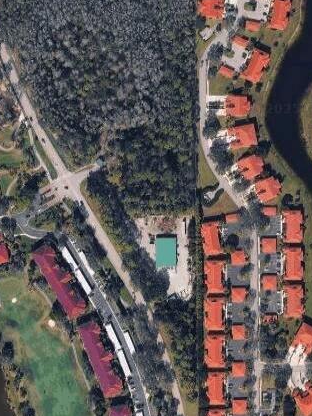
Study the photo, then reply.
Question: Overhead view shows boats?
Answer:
No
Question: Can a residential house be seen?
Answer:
Yes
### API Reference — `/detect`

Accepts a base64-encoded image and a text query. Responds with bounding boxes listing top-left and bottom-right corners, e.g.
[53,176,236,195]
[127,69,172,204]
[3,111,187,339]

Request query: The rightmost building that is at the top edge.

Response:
[270,0,290,30]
